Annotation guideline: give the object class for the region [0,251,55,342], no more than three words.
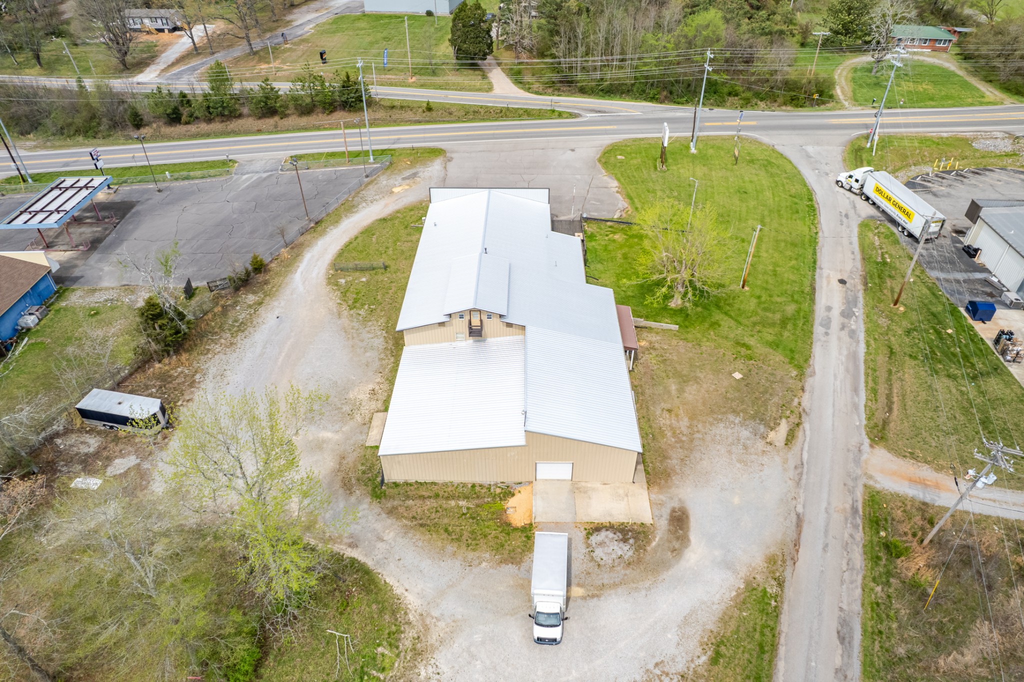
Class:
building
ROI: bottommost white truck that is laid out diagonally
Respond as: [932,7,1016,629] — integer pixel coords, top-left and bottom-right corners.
[837,171,947,246]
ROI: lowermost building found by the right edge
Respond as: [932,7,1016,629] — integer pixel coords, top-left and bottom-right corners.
[957,198,1024,292]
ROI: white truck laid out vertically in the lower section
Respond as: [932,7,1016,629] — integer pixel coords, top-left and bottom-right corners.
[526,531,568,650]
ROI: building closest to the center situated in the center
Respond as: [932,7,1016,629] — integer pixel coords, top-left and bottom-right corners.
[376,186,644,490]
